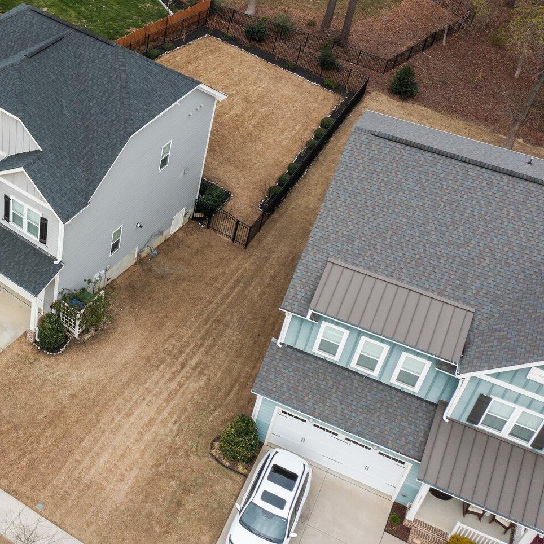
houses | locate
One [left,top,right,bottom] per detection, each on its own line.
[247,111,544,544]
[0,0,227,353]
